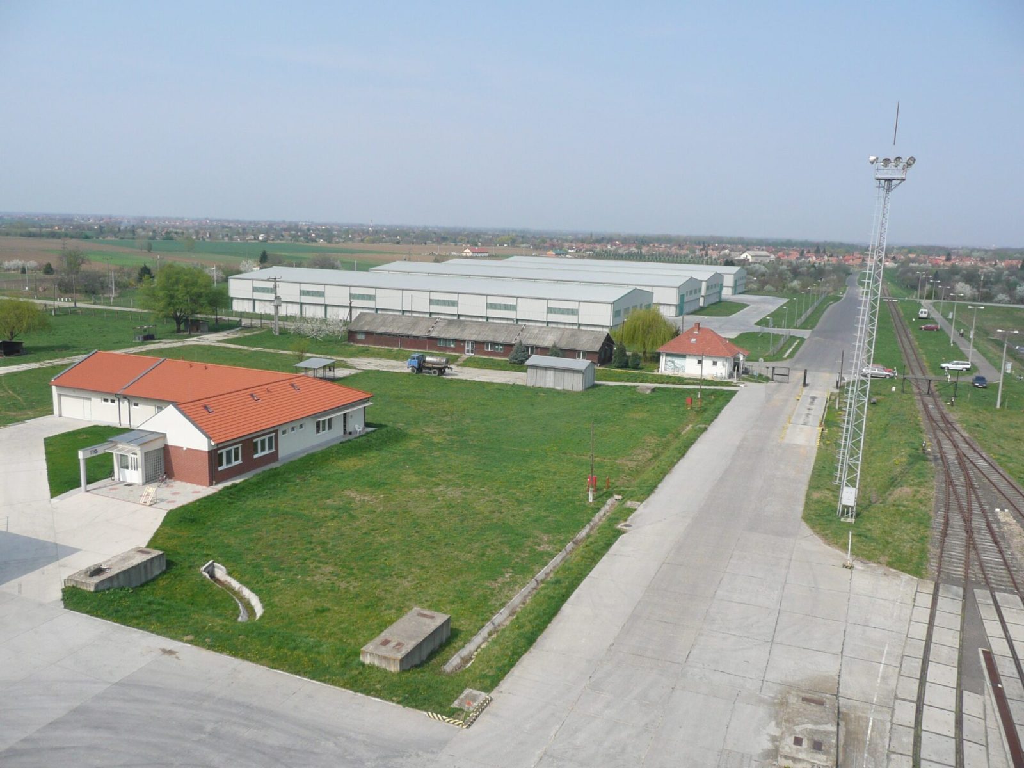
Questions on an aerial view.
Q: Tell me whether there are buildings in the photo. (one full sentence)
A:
Yes, a building is visible in the scene.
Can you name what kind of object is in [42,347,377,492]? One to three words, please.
building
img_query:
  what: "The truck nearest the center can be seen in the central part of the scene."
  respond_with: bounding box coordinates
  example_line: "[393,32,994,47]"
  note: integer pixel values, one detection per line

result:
[408,352,457,375]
